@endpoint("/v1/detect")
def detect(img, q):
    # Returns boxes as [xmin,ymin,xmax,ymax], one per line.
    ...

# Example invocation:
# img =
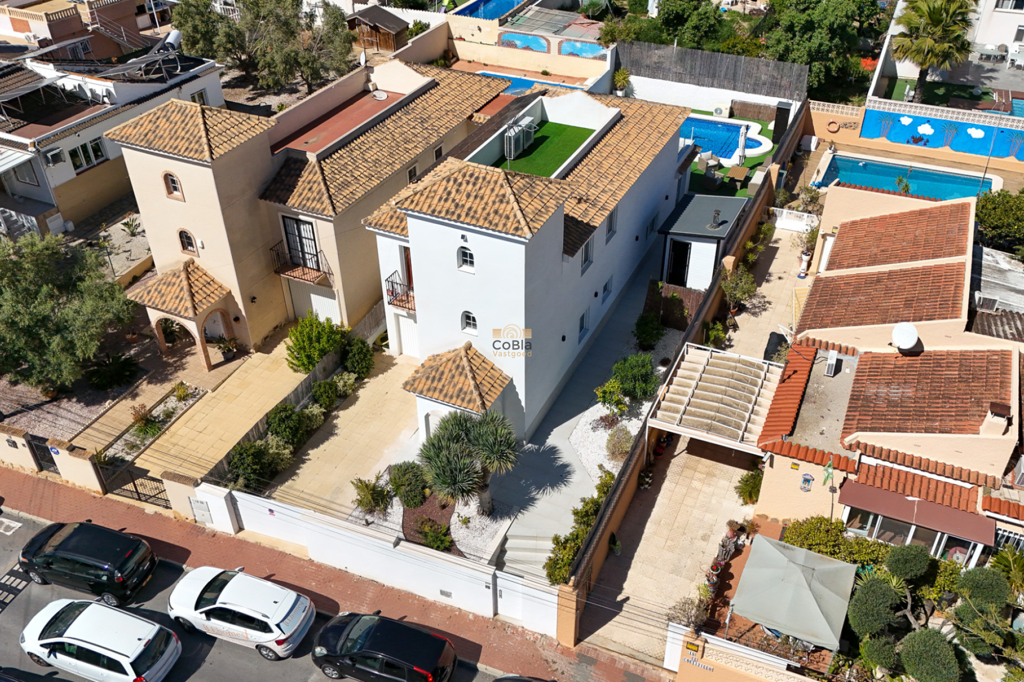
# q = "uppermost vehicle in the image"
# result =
[17,518,169,612]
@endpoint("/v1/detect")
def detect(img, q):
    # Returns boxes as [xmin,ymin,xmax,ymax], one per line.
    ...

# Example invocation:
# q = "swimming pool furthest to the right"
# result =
[991,99,1024,129]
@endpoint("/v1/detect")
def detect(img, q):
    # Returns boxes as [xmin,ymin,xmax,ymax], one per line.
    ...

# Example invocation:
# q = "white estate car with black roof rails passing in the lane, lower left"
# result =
[19,596,186,682]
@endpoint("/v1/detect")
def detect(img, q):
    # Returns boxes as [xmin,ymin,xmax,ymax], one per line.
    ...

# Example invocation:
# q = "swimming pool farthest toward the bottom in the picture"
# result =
[817,147,1006,216]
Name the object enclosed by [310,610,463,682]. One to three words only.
car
